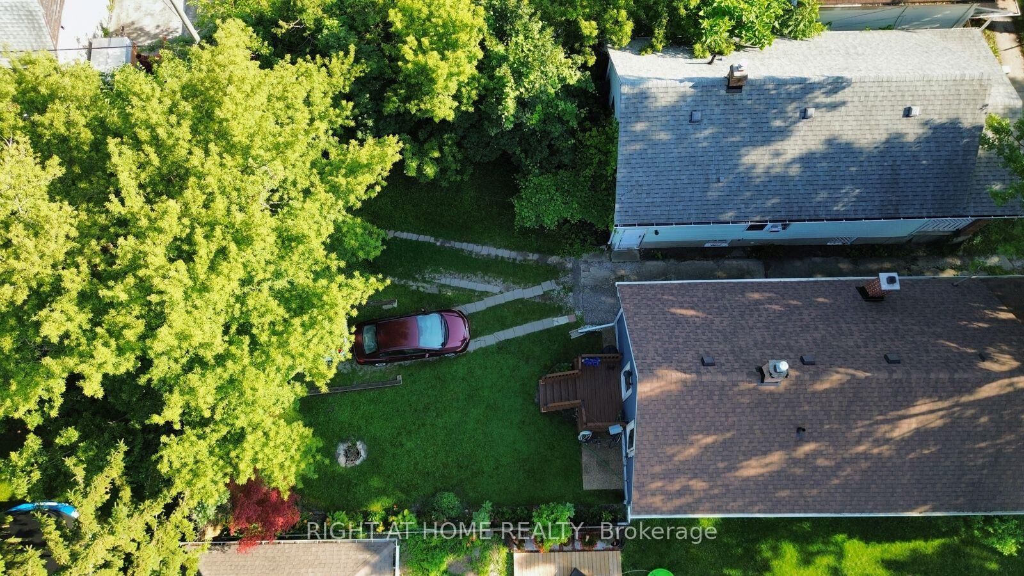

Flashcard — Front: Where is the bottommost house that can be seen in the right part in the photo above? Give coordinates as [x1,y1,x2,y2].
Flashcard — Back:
[578,267,1024,525]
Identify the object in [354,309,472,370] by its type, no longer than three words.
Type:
car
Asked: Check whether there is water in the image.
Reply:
No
